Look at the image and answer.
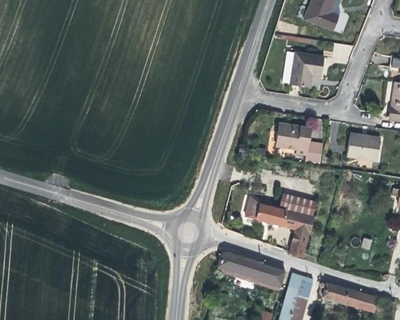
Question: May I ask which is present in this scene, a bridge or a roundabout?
roundabout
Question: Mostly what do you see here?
farmland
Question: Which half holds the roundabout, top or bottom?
bottom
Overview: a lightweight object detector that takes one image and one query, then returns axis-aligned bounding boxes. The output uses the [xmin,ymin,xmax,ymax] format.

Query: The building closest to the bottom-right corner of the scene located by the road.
[324,283,378,314]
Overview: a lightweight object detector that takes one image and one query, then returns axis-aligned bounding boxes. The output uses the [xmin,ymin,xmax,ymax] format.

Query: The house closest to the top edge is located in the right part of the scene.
[304,0,342,31]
